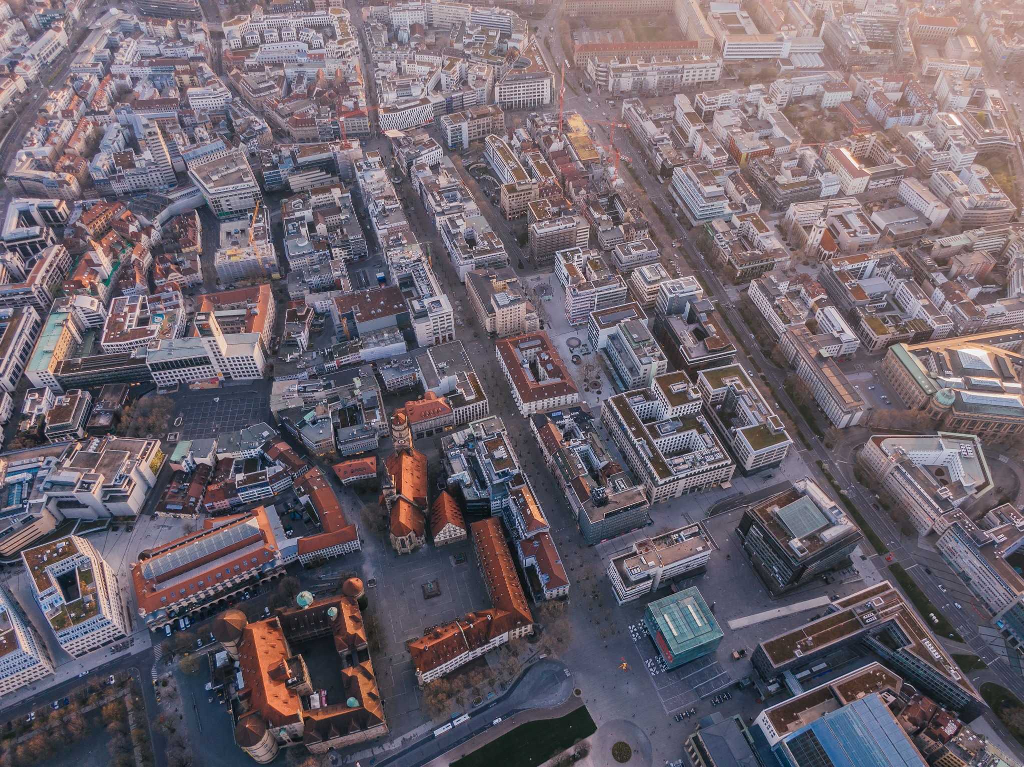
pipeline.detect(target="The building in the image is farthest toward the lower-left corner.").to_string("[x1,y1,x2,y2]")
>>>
[0,589,56,695]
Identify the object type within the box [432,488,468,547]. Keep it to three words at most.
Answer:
house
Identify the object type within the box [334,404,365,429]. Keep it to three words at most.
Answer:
building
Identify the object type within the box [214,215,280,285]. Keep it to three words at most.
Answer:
building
